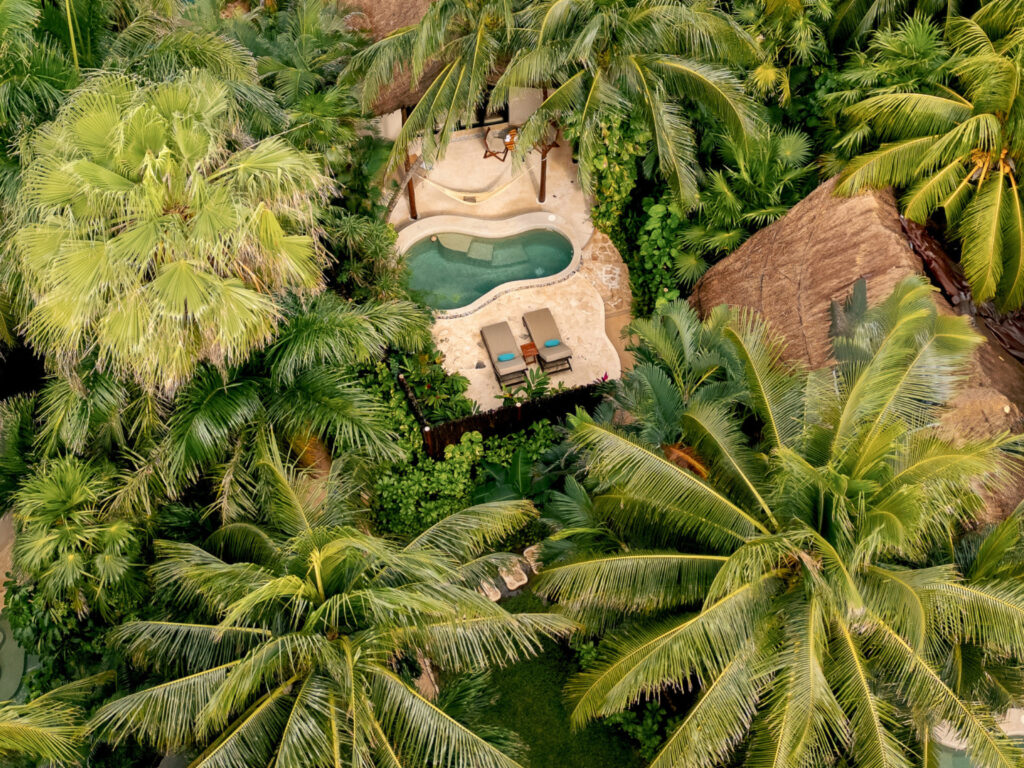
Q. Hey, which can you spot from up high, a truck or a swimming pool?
swimming pool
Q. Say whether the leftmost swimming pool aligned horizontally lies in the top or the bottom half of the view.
top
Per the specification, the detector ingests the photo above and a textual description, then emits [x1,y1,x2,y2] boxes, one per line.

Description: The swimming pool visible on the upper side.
[388,210,593,321]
